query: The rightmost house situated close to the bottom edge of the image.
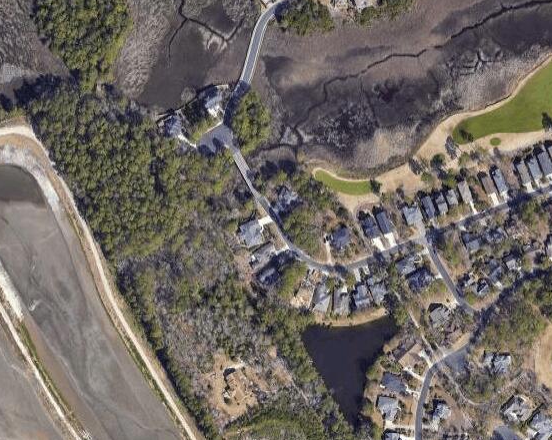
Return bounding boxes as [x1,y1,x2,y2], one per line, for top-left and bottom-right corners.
[531,412,552,440]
